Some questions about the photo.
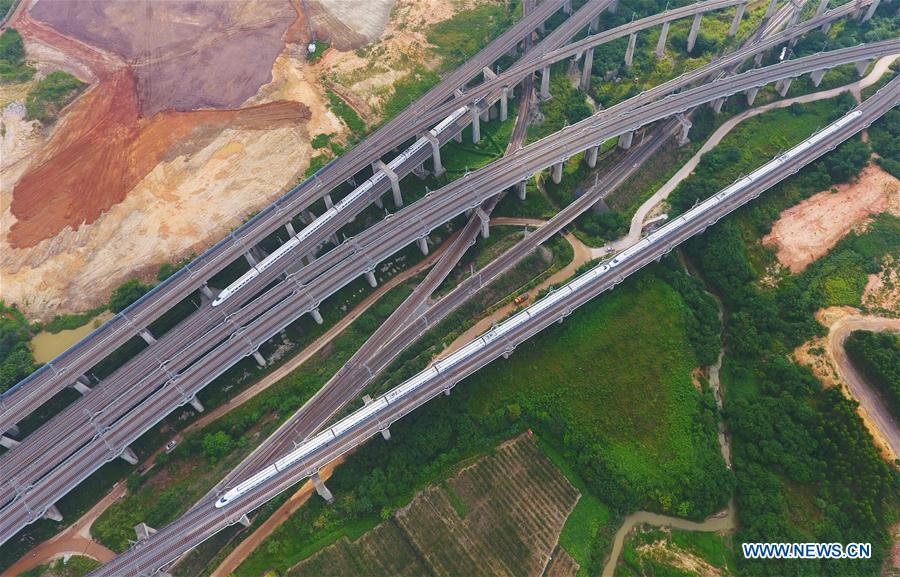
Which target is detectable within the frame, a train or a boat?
train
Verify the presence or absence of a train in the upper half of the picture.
Yes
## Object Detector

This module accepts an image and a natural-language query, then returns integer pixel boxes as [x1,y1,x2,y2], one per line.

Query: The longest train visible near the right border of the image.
[611,107,863,266]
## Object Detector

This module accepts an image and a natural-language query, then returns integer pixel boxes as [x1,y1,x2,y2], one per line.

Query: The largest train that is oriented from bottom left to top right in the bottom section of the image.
[217,265,611,505]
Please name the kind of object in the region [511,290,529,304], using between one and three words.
vehicle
